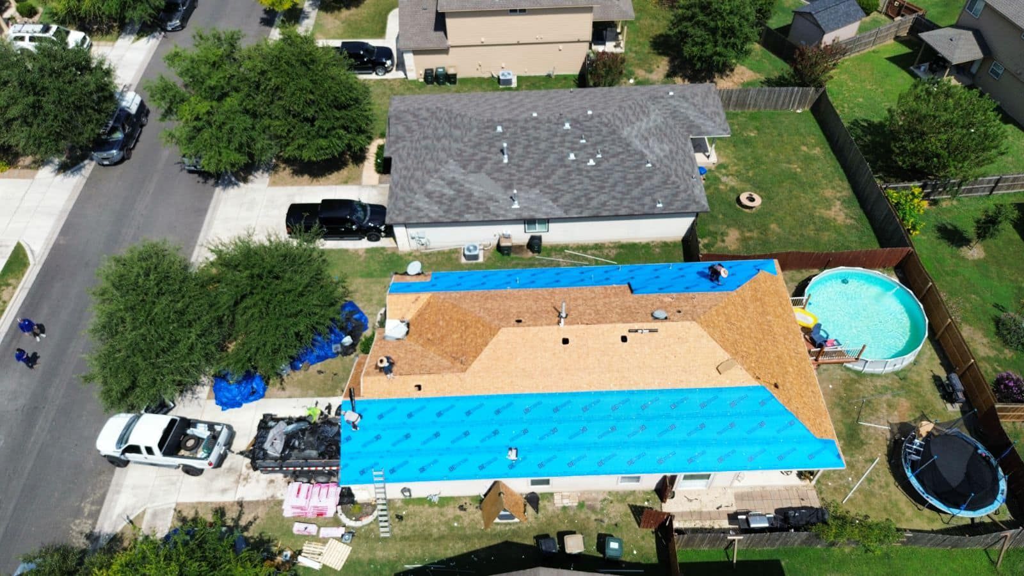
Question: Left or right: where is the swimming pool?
right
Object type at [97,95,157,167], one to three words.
truck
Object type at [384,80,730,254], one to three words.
house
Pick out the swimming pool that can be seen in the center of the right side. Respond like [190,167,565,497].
[800,266,929,375]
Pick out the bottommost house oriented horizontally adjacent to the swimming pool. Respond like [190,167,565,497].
[339,258,845,496]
